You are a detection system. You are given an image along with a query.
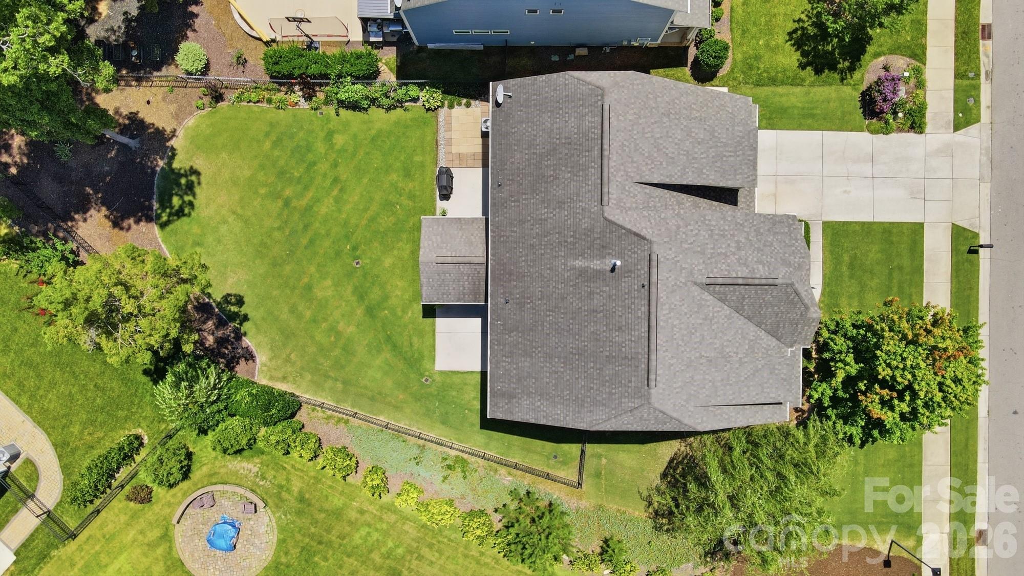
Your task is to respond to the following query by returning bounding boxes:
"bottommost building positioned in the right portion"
[420,69,822,432]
